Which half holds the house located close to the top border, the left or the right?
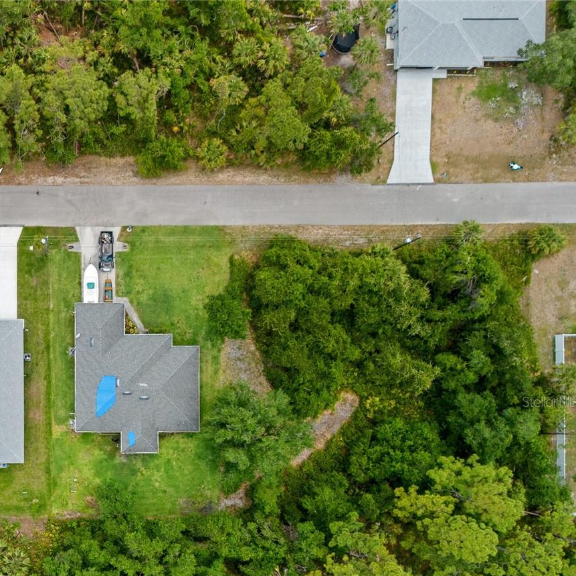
right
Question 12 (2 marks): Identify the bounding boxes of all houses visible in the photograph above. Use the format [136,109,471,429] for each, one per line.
[392,0,546,73]
[0,319,25,464]
[74,302,200,454]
